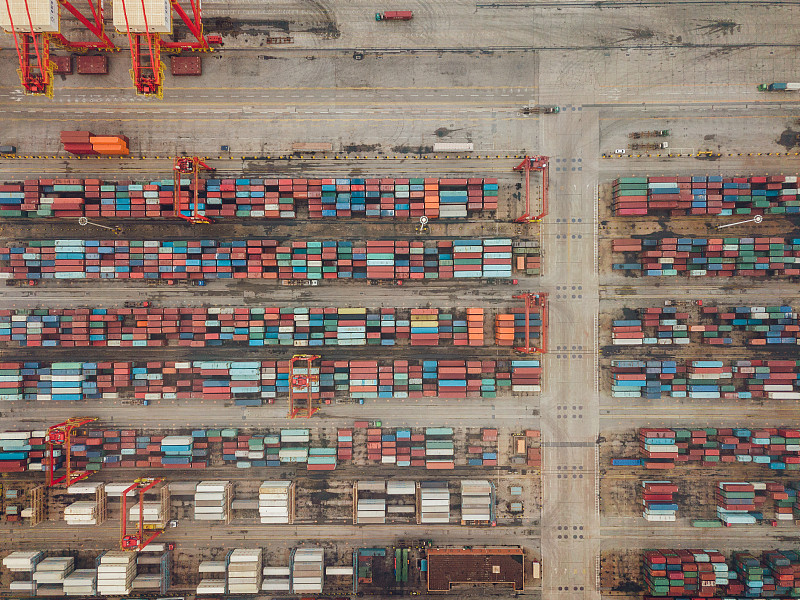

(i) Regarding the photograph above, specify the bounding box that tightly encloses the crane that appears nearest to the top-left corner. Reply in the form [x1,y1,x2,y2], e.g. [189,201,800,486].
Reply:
[0,0,127,108]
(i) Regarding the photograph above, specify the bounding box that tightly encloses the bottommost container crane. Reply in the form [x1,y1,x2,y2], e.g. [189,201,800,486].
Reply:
[121,477,166,555]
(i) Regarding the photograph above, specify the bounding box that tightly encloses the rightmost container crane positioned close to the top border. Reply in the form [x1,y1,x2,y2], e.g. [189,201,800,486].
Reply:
[113,0,221,108]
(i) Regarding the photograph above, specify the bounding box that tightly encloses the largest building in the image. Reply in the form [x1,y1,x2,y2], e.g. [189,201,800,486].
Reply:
[427,549,524,591]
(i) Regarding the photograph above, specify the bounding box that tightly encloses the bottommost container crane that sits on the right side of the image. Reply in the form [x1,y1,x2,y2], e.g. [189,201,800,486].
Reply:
[510,294,547,355]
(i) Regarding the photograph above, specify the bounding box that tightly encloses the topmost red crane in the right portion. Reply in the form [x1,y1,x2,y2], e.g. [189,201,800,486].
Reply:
[512,153,548,224]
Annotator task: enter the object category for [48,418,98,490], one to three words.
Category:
container crane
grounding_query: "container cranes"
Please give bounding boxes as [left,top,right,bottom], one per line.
[113,0,221,108]
[0,0,127,108]
[510,294,547,355]
[48,418,98,490]
[288,353,321,421]
[121,477,166,555]
[512,153,548,224]
[176,154,216,224]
